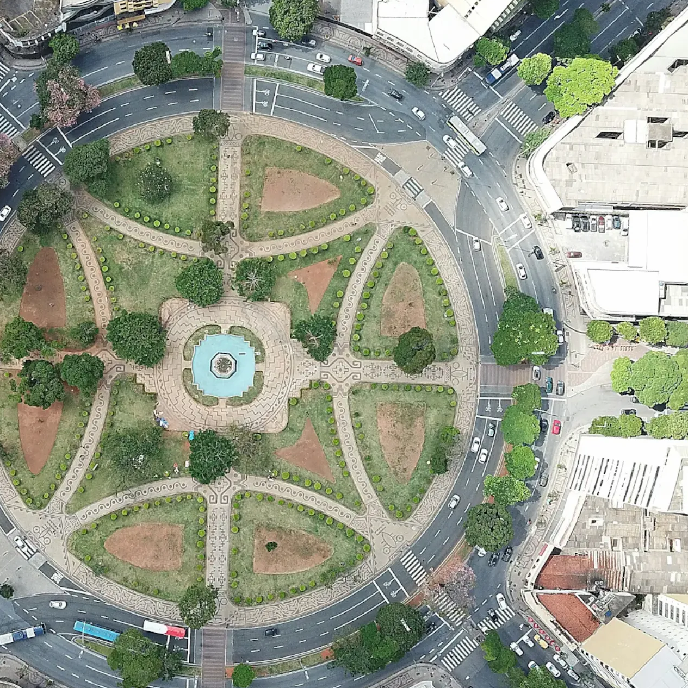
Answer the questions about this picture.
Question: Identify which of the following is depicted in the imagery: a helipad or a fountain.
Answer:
fountain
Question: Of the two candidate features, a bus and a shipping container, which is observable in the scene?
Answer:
bus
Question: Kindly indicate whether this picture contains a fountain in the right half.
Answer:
No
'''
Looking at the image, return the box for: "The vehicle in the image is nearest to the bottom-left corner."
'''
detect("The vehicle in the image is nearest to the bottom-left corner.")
[0,624,47,642]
